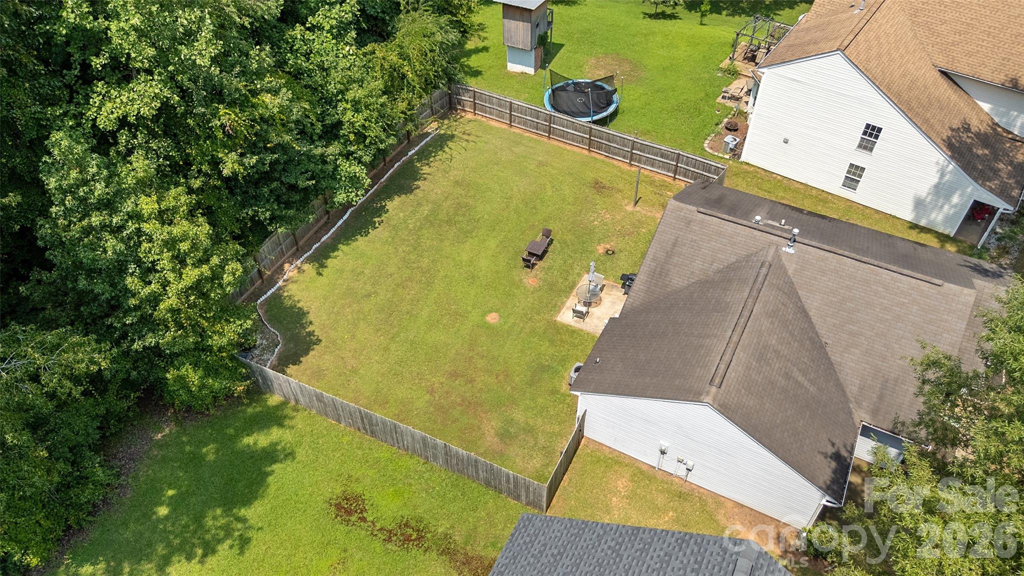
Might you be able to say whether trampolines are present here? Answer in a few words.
Yes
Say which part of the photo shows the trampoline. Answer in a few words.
top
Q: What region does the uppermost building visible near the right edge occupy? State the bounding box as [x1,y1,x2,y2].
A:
[741,0,1024,250]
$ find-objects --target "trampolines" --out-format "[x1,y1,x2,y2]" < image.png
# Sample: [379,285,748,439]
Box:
[541,66,628,129]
